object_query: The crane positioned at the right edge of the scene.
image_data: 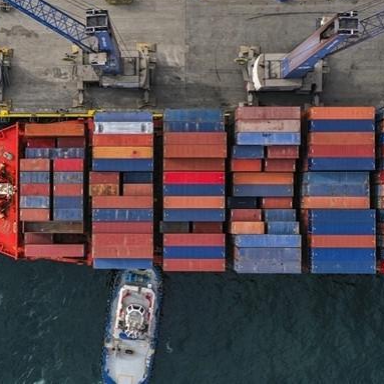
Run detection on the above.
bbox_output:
[243,4,384,108]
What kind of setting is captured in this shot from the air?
port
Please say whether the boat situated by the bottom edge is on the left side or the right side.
left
